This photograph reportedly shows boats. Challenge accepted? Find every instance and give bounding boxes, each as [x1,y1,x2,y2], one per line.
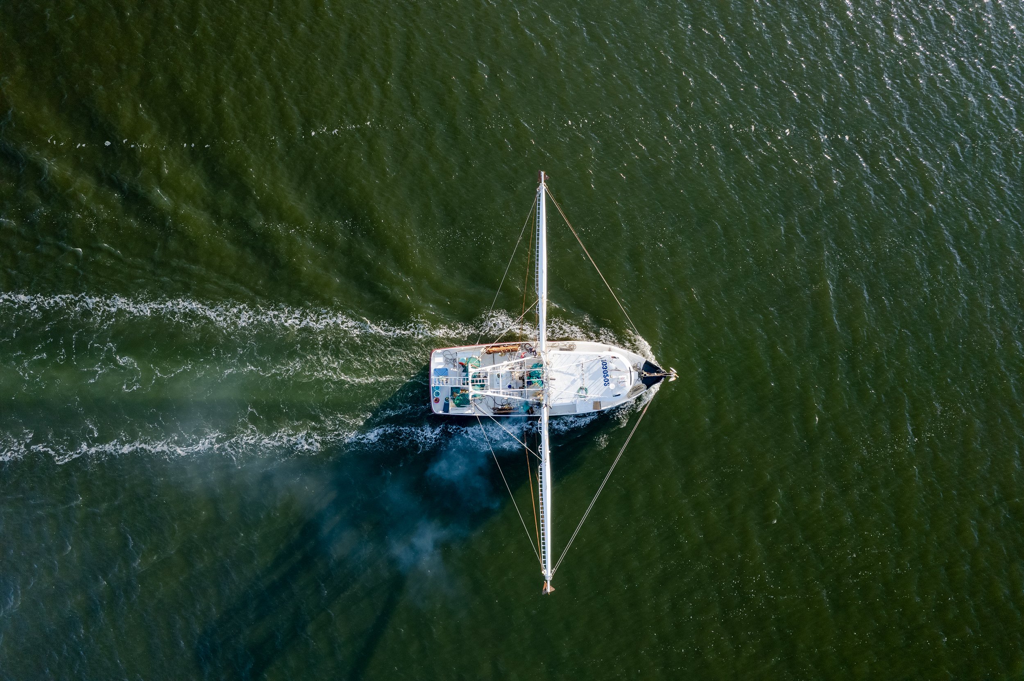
[428,171,673,592]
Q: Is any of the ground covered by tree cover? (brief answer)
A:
No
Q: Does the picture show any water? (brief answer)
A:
Yes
